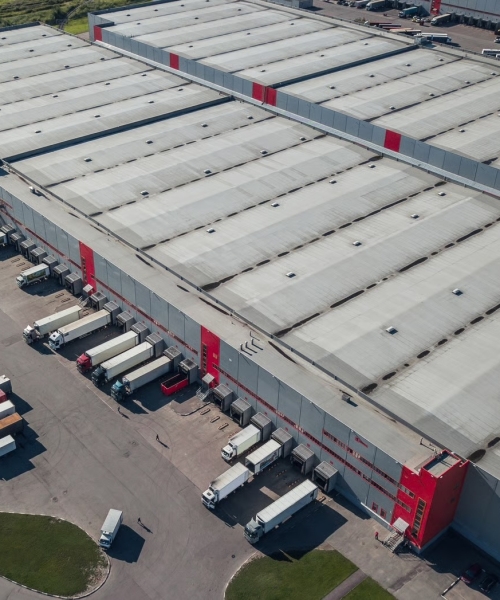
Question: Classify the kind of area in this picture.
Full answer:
The area seen from above is an industrial area.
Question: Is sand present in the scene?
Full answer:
No, the picture contains no sand.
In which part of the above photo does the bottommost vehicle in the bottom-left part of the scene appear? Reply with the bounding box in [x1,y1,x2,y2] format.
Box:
[94,506,123,550]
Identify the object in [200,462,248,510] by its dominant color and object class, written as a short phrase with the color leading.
white truck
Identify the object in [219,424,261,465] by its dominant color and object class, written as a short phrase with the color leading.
white truck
